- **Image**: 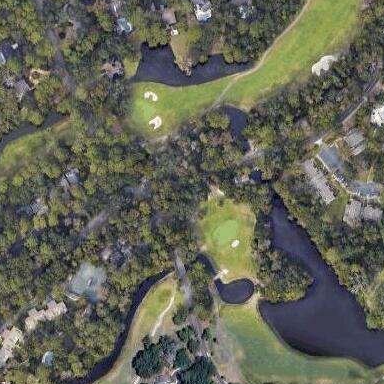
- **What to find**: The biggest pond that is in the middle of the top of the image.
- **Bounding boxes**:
[129,44,253,87]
